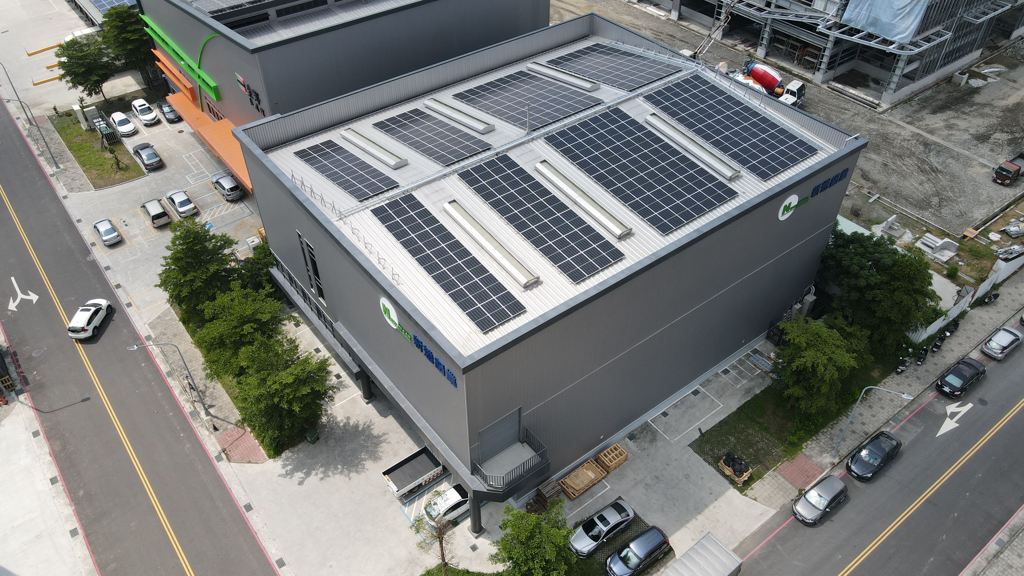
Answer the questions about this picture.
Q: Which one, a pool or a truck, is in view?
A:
truck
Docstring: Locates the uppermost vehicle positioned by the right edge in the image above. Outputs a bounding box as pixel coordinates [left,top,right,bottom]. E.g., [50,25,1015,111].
[993,151,1024,184]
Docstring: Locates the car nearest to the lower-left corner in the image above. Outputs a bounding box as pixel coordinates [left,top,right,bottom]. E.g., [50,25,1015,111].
[66,296,117,339]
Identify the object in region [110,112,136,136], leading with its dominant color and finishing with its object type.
white car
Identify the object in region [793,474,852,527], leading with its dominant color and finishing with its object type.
gray car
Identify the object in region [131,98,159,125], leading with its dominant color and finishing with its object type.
white car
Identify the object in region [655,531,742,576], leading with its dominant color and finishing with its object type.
white truck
